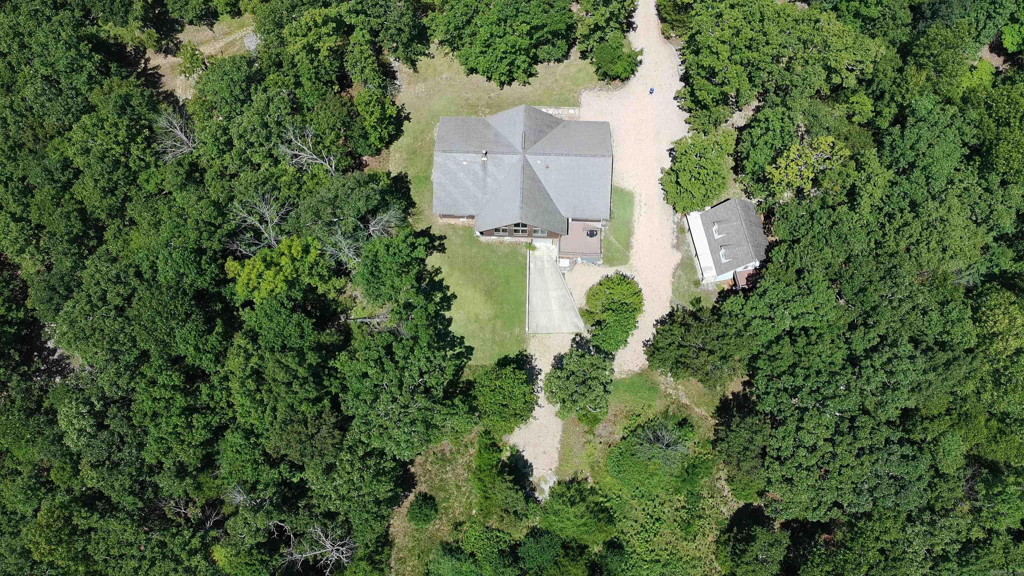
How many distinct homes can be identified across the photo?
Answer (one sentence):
My tally gives 2 homes in this view.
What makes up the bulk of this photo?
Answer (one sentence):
The bulk of the photo consists of trees.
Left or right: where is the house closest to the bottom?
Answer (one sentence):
The house closest to the bottom is on the right side of the image.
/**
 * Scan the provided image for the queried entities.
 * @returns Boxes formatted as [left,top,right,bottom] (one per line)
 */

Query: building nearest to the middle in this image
[432,106,613,244]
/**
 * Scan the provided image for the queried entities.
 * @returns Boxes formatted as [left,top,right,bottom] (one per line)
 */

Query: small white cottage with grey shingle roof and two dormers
[680,199,777,284]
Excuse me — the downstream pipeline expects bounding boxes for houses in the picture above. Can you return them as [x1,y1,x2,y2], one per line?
[432,106,613,244]
[680,199,777,284]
